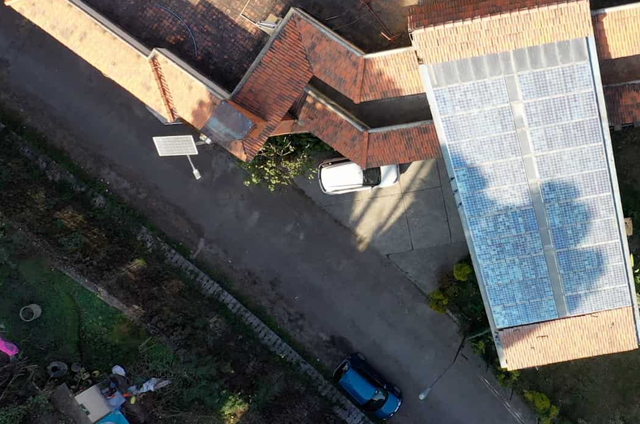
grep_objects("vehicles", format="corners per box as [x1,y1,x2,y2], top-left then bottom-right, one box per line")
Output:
[334,352,405,423]
[318,161,399,197]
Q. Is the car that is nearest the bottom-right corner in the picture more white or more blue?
blue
